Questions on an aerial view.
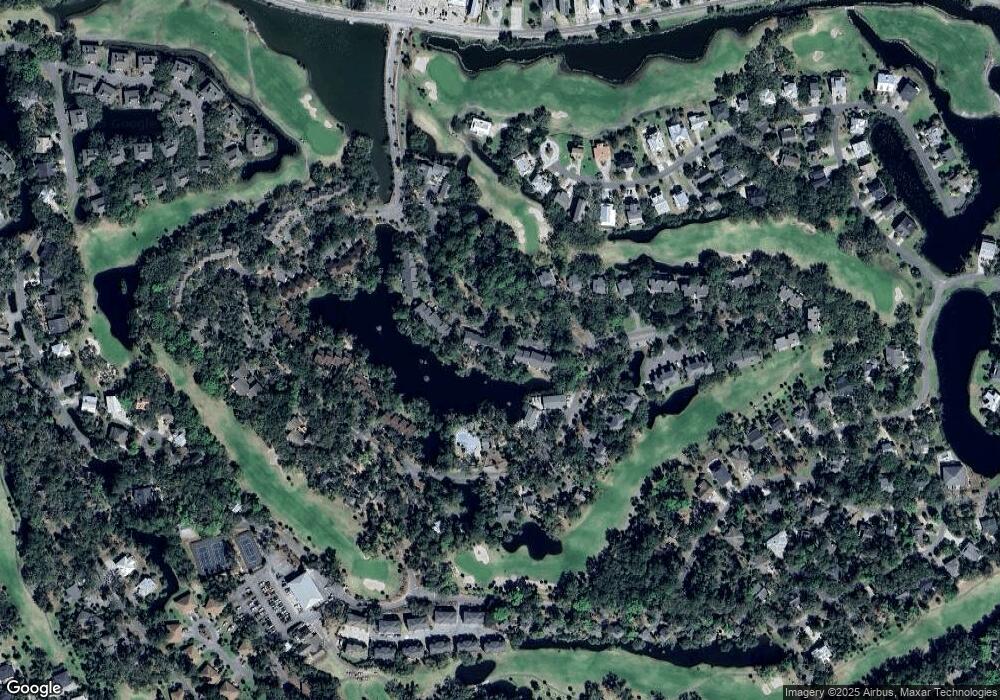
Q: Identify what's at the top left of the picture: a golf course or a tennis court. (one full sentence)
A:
It is a golf course that can be seen at the top left of the picture.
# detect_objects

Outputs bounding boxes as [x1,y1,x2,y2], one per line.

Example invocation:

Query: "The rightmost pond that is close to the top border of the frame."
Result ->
[427,0,1000,275]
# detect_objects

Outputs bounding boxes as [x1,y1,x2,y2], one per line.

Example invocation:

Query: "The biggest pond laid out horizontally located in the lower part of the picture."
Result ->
[521,636,785,667]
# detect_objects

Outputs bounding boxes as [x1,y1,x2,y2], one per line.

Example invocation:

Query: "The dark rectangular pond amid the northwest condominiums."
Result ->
[76,108,161,141]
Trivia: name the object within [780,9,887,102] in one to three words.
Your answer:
golf course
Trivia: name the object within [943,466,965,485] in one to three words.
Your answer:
house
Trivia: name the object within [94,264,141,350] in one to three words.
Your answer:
pond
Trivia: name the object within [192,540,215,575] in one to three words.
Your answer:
tennis court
